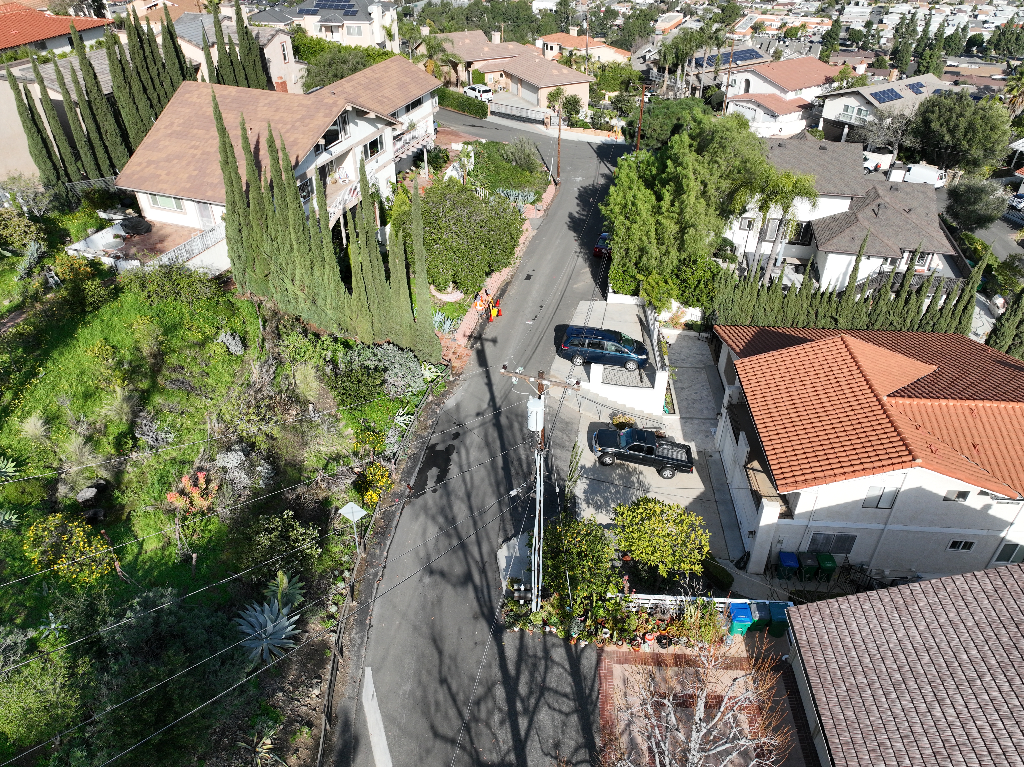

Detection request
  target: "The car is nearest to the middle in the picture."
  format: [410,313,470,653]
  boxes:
[560,324,652,372]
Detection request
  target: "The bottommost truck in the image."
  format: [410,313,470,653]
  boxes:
[587,425,699,478]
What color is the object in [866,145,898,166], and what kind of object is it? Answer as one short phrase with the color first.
white truck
